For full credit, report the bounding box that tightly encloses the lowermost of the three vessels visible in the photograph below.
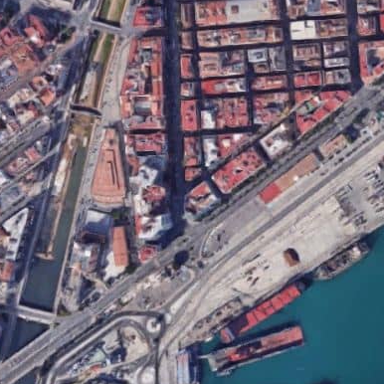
[208,329,303,371]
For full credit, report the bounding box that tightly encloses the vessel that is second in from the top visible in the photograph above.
[218,280,310,346]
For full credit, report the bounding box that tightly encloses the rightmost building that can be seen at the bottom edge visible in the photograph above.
[177,352,191,384]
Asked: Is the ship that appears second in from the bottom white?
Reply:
No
